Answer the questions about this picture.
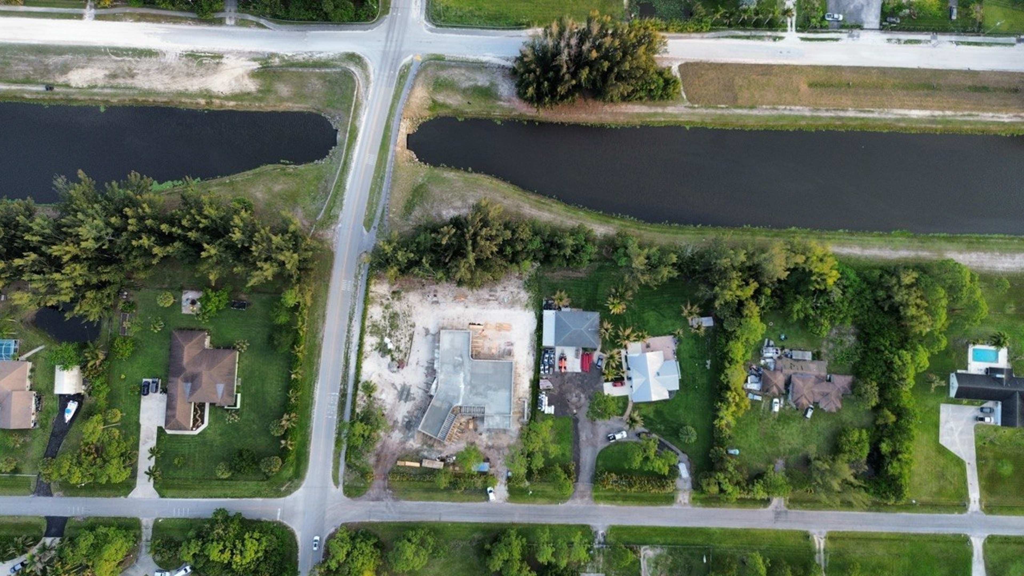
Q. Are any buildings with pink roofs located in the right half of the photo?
No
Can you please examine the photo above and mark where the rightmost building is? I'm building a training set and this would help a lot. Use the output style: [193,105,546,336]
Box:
[950,367,1024,427]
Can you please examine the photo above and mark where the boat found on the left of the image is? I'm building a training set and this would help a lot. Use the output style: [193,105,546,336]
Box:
[64,400,79,424]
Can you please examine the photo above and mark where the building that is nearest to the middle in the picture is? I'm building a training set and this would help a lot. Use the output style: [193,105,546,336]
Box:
[542,310,600,348]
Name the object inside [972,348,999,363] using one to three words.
swimming pool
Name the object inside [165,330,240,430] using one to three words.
house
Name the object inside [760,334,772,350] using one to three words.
vehicle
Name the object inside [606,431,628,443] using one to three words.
vehicle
